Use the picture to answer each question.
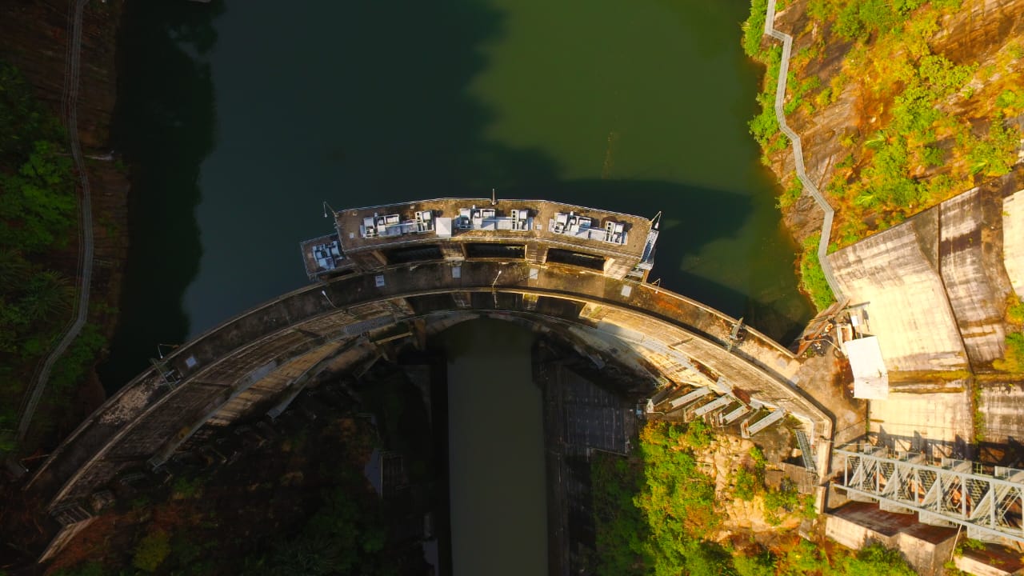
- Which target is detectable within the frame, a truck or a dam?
dam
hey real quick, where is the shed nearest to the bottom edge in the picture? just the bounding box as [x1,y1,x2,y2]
[839,336,888,399]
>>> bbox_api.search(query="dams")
[27,258,834,562]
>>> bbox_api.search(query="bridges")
[811,442,1024,547]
